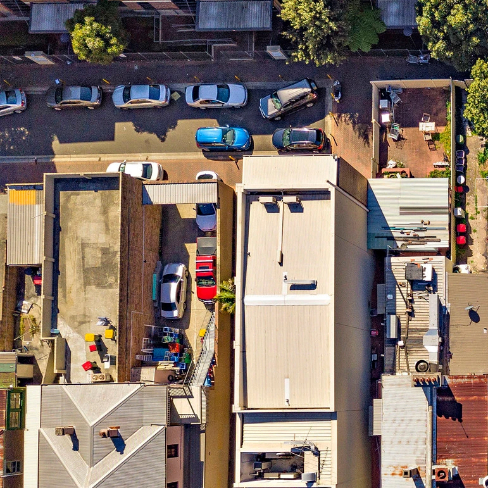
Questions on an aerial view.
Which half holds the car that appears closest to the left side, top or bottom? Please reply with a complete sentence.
It is in the top half that the car that appears closest to the left side appears.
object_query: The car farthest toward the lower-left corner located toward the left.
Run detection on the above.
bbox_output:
[158,261,190,319]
